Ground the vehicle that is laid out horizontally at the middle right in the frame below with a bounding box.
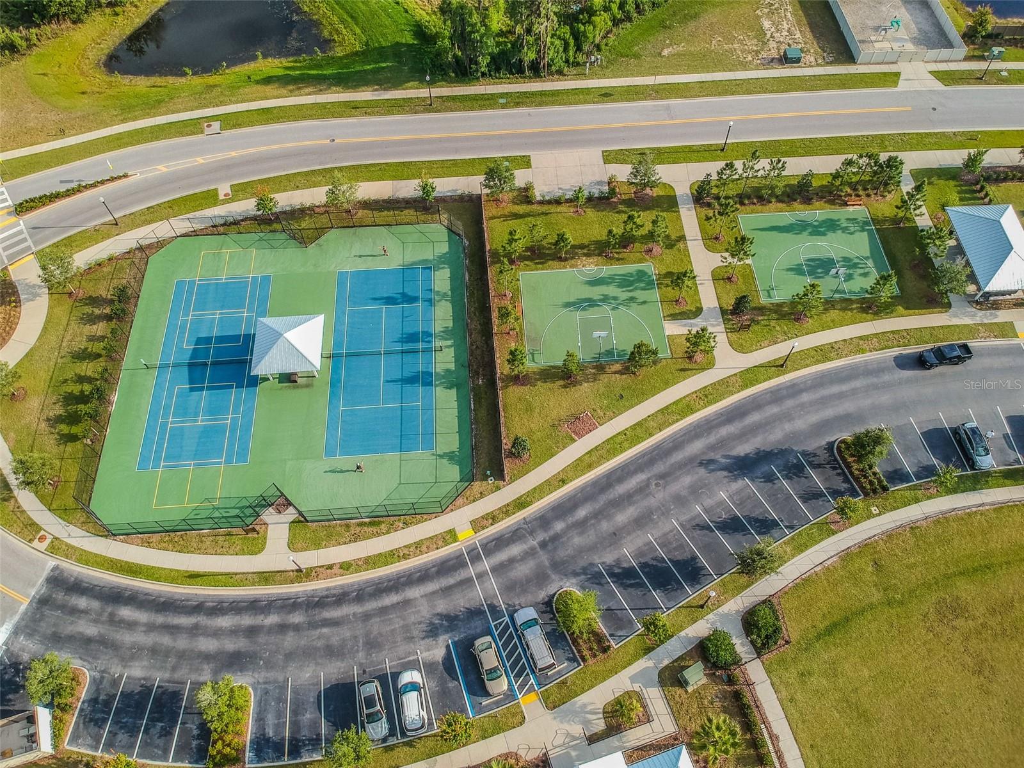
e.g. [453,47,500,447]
[920,340,979,369]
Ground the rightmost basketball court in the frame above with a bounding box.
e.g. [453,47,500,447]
[737,208,902,303]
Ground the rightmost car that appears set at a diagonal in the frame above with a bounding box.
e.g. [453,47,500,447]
[957,425,995,469]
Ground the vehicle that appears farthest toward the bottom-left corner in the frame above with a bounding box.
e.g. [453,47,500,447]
[359,678,389,742]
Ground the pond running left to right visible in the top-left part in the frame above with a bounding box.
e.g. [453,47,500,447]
[109,0,327,80]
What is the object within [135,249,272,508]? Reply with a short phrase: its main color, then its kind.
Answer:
blue tennis court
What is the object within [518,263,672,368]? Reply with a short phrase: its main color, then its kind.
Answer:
green basketball court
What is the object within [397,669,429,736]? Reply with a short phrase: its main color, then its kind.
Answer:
white car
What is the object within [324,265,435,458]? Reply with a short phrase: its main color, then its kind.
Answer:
blue tennis court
